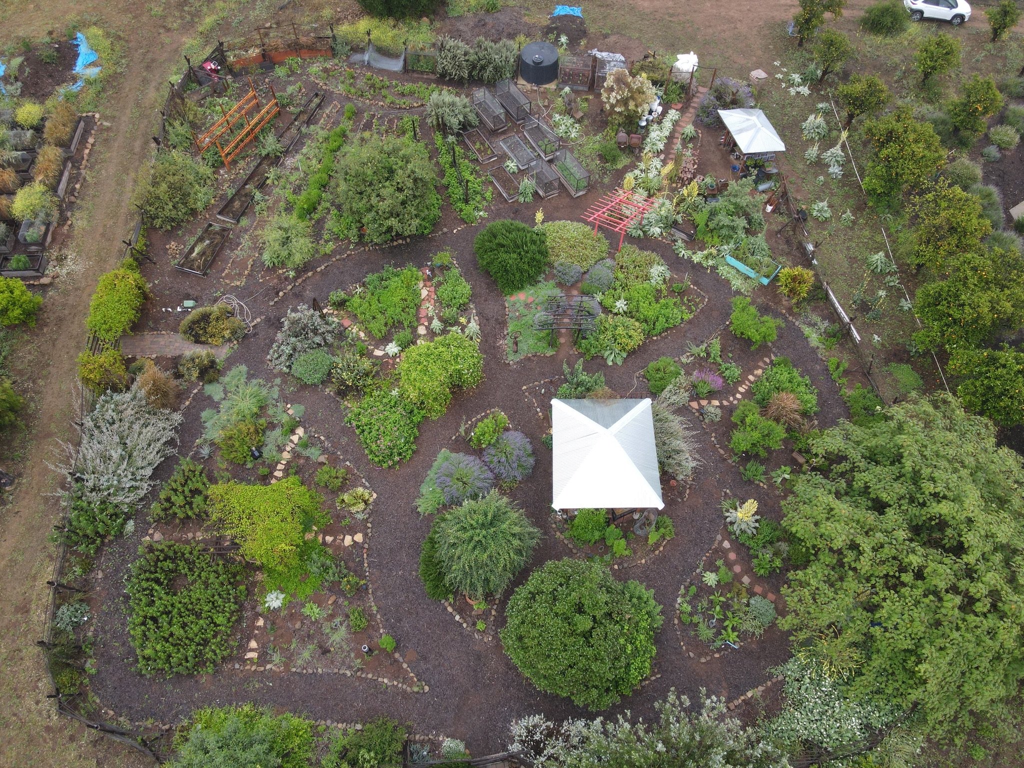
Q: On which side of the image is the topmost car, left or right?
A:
right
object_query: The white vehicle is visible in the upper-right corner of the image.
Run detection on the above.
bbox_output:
[908,0,978,28]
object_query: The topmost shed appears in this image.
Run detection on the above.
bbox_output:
[714,108,788,180]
